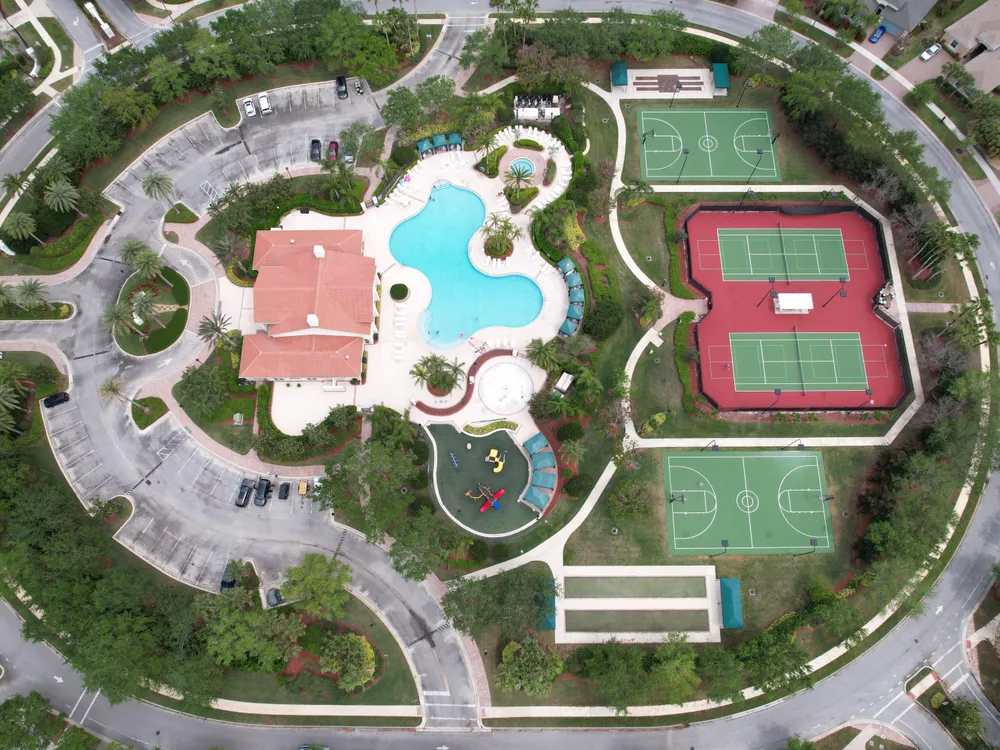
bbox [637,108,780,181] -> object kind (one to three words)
basketball court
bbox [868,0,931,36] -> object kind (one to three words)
house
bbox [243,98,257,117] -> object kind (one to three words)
vehicle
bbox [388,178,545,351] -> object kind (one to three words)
swimming pool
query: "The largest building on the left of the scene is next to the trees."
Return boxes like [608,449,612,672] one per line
[238,229,383,381]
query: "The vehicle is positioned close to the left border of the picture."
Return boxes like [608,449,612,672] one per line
[43,391,71,408]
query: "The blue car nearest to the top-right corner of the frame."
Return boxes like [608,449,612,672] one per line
[869,25,886,44]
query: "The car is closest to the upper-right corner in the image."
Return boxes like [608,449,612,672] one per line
[920,44,941,62]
